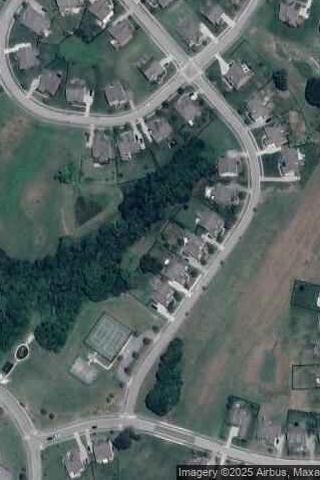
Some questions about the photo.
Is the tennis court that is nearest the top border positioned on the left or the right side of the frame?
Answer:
left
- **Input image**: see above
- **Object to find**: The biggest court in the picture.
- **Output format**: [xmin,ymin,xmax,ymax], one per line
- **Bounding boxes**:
[83,312,133,361]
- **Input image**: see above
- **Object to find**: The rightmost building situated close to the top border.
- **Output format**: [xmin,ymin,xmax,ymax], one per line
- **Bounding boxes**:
[279,2,307,27]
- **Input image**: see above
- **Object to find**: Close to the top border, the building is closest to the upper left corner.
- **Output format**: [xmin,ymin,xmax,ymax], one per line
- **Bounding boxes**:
[22,8,51,36]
